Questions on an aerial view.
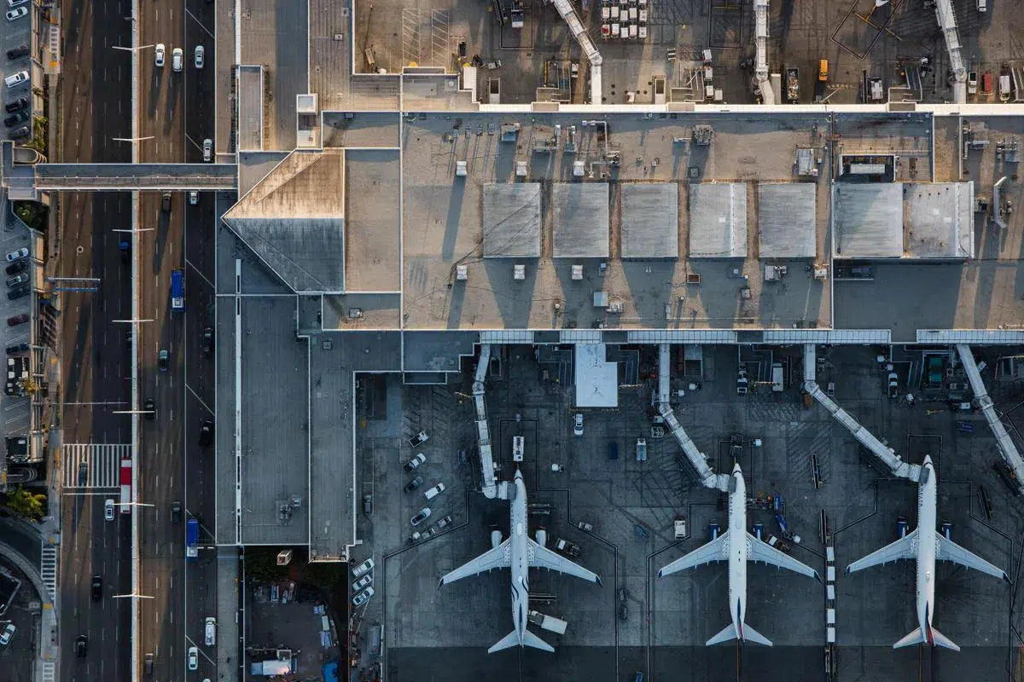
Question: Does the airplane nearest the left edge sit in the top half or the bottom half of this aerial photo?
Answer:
bottom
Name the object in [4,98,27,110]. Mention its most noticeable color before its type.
black vehicle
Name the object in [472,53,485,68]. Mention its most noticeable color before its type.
black vehicle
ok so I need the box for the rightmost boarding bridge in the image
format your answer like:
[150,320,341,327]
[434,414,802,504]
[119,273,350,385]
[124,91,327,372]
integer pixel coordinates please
[955,345,1024,496]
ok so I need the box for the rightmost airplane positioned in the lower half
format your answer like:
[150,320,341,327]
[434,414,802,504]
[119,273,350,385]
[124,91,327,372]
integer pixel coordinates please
[848,456,1013,656]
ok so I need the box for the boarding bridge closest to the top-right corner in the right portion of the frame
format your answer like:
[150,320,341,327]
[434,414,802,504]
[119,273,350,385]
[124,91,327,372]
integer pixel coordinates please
[926,0,968,103]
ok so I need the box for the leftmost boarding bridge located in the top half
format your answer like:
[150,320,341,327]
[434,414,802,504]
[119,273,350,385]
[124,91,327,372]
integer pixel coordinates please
[541,0,603,103]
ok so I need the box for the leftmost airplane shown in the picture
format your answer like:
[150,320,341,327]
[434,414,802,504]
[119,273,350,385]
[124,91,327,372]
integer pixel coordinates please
[438,470,602,656]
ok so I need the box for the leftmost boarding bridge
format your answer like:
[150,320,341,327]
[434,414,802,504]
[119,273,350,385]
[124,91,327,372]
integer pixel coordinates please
[473,344,516,499]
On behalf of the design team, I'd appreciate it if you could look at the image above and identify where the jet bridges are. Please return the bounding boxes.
[473,344,516,499]
[926,0,968,103]
[748,0,773,103]
[955,345,1024,496]
[541,0,603,103]
[656,345,737,493]
[801,345,927,482]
